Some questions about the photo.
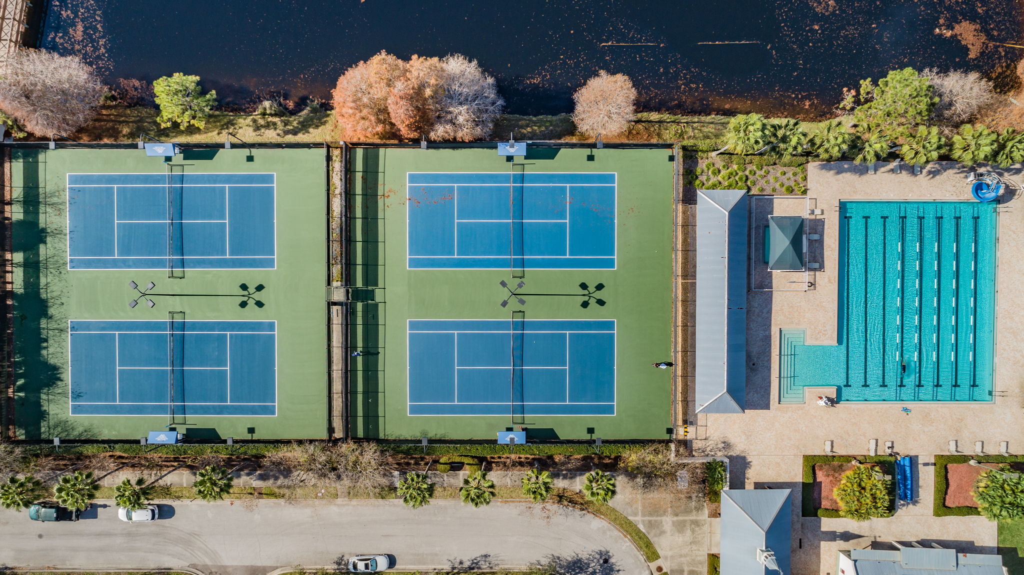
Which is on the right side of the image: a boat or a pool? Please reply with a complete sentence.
There is a pool on the right side of the image.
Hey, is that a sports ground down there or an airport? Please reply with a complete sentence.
What you see here is a sports ground.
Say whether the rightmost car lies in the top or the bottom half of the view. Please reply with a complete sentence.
You can find the rightmost car in the bottom half.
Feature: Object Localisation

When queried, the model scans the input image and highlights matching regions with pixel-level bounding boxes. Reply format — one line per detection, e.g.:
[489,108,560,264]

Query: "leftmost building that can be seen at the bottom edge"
[720,489,792,575]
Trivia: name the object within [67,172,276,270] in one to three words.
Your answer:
tennis court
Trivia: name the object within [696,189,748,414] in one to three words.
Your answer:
building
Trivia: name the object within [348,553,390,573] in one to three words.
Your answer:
car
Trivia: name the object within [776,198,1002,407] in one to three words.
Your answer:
swimming pool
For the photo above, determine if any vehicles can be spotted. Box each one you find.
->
[30,502,83,523]
[348,553,390,573]
[121,503,160,522]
